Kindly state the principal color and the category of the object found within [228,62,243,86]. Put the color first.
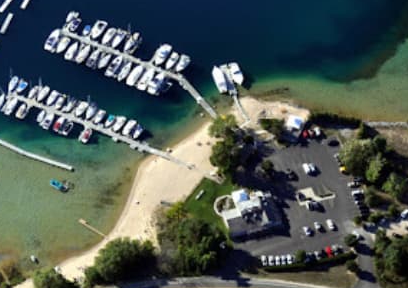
white boat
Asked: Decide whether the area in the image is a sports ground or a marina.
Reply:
marina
